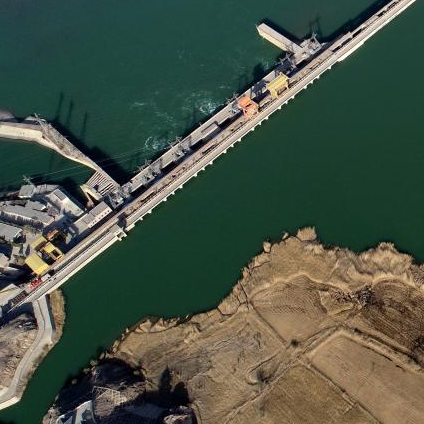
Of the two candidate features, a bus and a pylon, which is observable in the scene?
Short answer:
pylon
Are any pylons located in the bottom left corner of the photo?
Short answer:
No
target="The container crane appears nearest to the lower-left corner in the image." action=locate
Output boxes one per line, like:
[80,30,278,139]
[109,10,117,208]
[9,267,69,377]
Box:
[24,252,58,281]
